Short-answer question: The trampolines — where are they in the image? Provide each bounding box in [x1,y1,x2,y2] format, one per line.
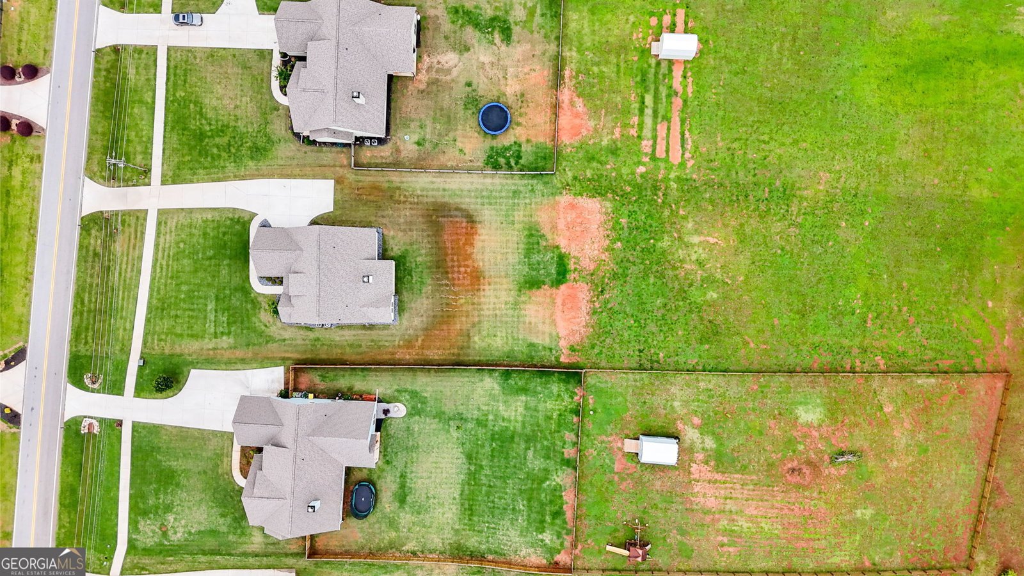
[478,102,511,135]
[349,480,375,522]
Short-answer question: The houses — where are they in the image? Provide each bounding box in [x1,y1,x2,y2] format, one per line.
[274,0,418,144]
[232,395,389,543]
[251,226,396,323]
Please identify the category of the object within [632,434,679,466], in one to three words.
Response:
shed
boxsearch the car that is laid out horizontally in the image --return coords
[171,12,204,28]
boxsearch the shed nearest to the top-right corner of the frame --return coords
[651,30,698,58]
